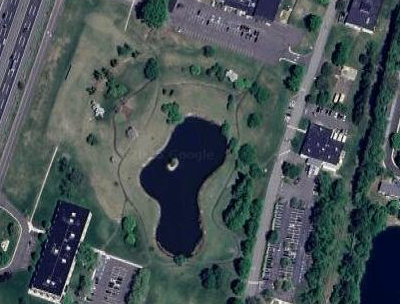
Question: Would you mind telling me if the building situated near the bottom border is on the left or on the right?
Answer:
left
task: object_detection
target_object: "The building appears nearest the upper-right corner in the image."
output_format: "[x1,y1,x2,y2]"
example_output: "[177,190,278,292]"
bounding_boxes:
[346,0,384,33]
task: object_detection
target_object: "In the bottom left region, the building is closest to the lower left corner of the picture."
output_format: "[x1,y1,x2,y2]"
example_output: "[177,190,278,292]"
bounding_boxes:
[29,200,93,300]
